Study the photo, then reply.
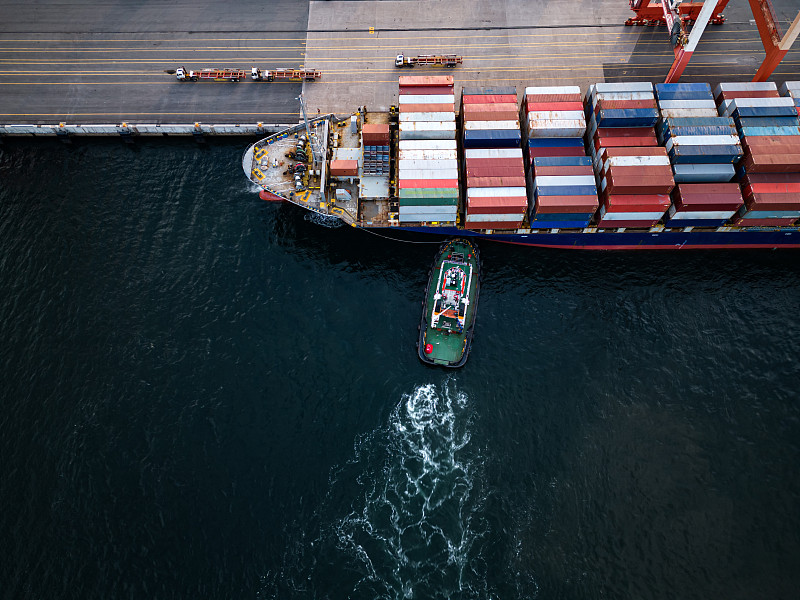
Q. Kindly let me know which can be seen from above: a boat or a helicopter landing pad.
boat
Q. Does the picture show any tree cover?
No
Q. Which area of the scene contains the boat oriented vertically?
center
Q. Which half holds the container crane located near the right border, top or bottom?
top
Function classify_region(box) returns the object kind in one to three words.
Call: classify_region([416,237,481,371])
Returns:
boat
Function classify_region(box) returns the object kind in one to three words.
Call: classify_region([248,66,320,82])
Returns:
vehicle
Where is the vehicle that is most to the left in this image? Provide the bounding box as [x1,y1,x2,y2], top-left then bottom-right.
[173,66,245,82]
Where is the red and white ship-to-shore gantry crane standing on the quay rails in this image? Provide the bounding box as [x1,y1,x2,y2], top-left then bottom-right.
[616,0,800,89]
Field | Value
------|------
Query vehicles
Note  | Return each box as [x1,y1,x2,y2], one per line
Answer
[173,66,245,82]
[395,52,464,69]
[248,66,320,82]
